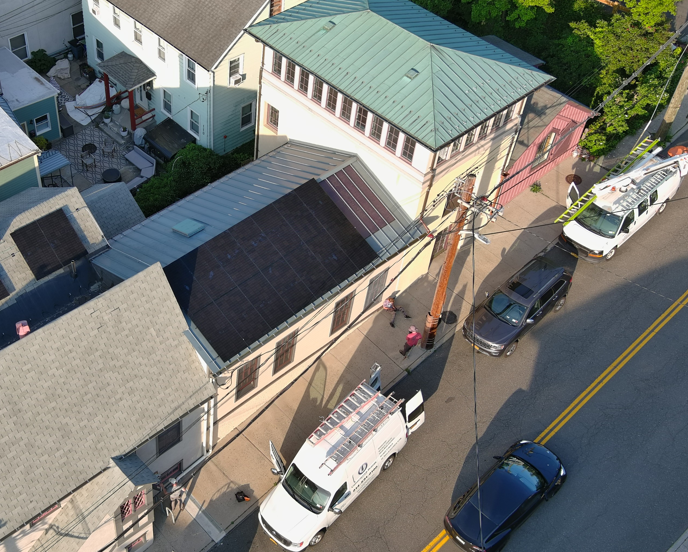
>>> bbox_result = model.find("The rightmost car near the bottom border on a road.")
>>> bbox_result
[440,435,570,552]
